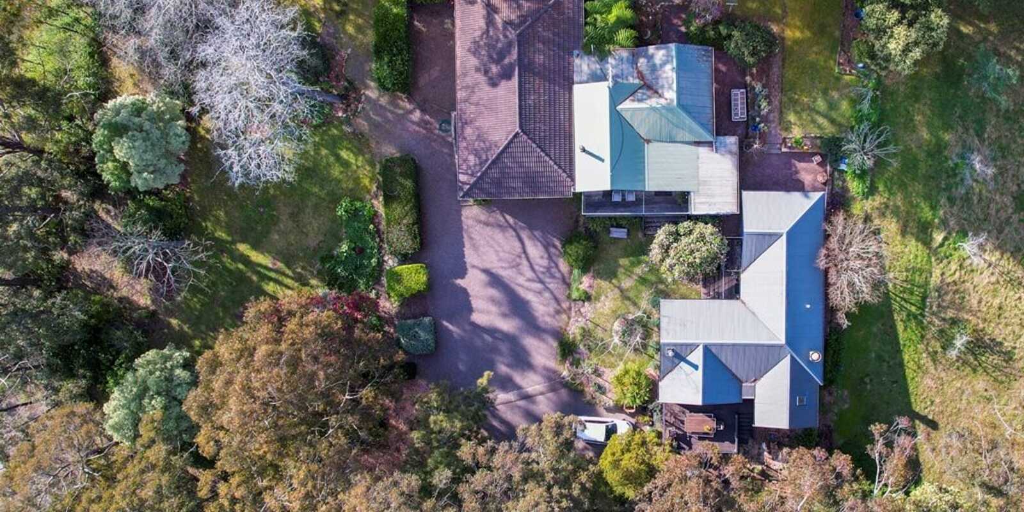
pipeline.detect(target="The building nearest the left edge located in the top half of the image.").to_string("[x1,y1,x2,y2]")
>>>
[455,0,576,199]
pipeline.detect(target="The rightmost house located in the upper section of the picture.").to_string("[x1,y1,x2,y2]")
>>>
[574,41,742,215]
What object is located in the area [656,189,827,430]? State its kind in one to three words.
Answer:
house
